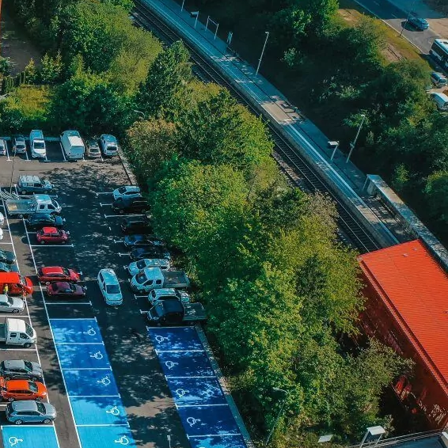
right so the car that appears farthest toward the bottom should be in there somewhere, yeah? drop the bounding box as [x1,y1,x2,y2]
[3,398,57,424]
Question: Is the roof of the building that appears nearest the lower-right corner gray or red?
red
